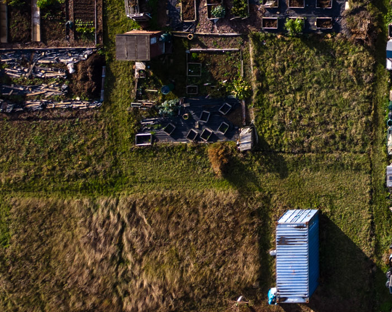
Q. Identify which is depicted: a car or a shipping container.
shipping container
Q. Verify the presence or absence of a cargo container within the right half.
Yes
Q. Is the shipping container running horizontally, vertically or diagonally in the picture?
vertically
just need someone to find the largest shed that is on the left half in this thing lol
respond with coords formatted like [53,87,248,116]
[116,31,164,60]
